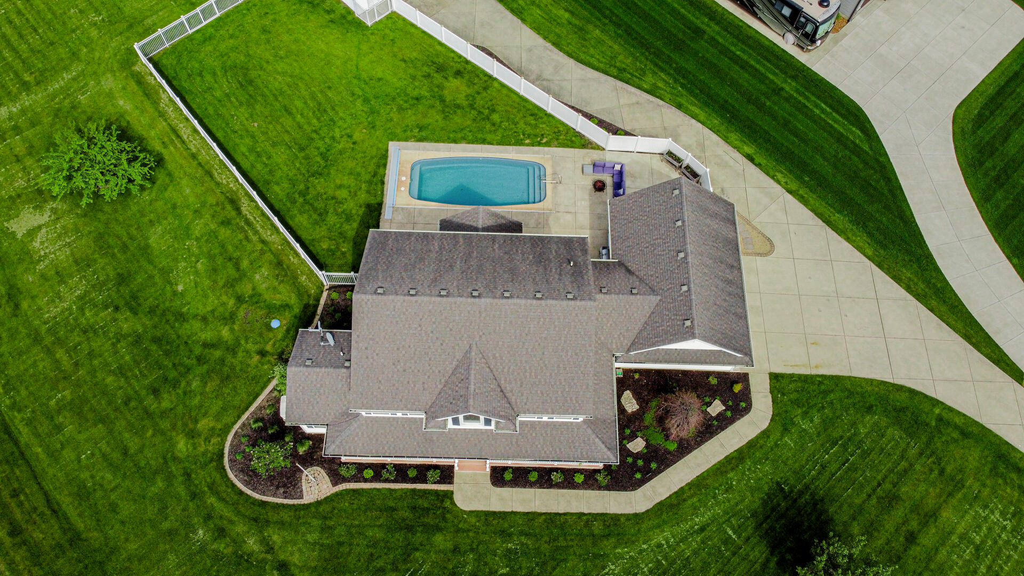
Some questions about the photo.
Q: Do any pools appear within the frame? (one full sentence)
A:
Yes, I can see a pool in this picture.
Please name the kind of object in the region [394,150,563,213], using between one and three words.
swimming pool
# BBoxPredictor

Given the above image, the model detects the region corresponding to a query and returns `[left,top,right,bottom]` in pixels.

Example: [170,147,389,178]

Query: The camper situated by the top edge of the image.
[723,0,838,49]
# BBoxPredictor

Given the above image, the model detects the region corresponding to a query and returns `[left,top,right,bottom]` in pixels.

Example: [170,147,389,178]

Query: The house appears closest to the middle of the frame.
[280,179,755,474]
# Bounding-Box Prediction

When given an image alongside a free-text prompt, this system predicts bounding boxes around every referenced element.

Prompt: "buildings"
[280,179,755,474]
[834,0,869,20]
